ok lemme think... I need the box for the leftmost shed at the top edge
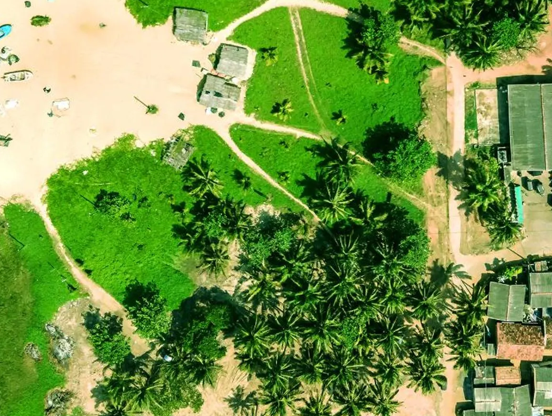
[174,7,208,43]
